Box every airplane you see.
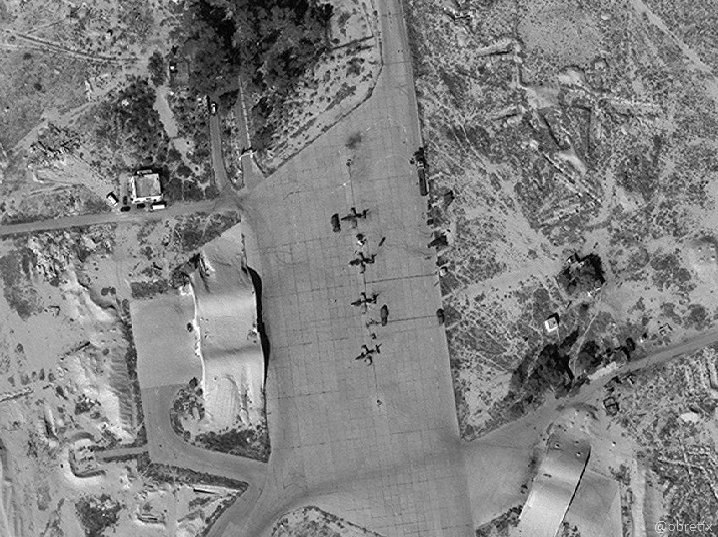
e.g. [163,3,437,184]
[341,207,368,228]
[351,291,378,313]
[350,251,377,272]
[356,344,381,365]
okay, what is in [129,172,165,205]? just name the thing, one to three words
house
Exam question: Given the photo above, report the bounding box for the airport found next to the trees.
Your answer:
[97,0,621,537]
